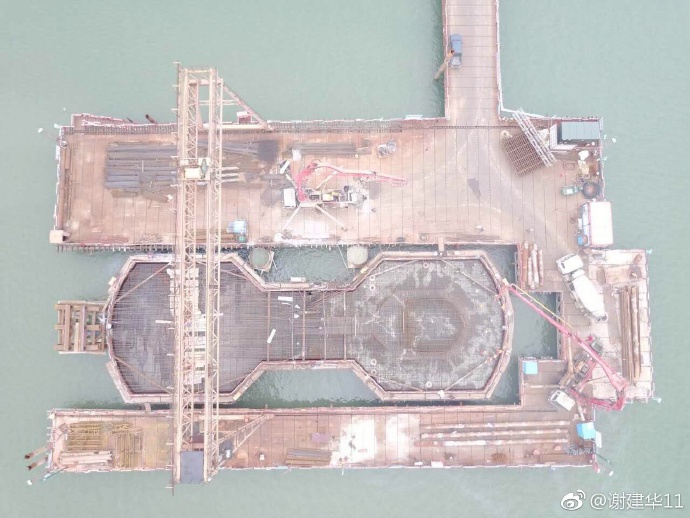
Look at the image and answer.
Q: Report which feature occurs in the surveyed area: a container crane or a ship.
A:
container crane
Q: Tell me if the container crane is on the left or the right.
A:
left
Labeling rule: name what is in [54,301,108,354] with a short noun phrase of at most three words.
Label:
pier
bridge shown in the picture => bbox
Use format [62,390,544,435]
[443,0,502,121]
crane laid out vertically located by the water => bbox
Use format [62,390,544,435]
[168,61,270,495]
